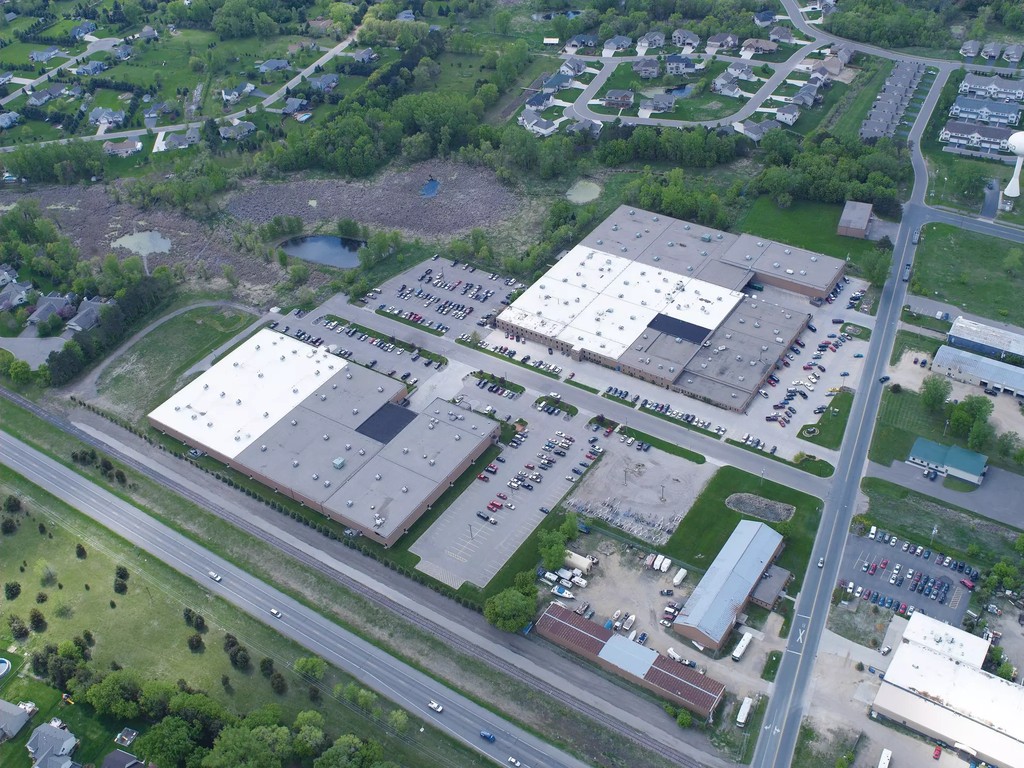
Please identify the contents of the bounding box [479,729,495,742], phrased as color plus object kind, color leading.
blue vehicle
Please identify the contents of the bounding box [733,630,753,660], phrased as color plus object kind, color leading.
white camper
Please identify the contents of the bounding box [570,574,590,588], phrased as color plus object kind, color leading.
white vehicle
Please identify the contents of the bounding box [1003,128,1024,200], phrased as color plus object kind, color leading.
white water tower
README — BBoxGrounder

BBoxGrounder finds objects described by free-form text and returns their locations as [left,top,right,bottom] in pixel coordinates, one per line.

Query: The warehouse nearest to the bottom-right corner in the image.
[872,611,1024,768]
